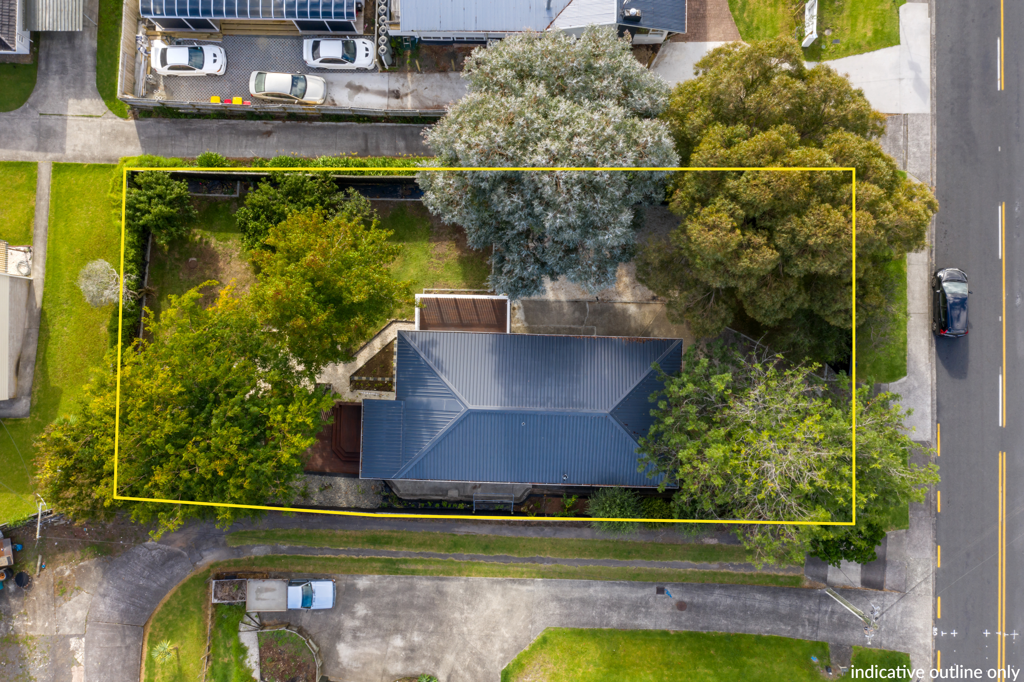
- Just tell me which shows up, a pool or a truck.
truck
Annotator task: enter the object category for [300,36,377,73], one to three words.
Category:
car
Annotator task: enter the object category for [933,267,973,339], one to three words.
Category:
car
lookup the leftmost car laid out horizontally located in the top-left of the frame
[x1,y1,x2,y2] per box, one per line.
[148,42,228,79]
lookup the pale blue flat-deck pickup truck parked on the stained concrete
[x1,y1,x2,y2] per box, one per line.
[249,579,340,614]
